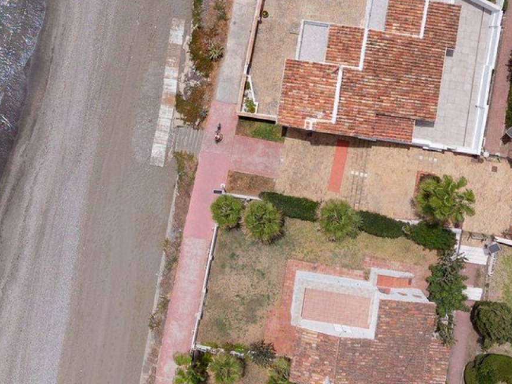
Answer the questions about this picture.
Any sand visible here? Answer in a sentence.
Yes, sand can be seen from above here.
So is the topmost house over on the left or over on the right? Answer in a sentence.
It is on the right.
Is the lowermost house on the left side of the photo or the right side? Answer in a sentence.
The lowermost house appears in the right half of the scene.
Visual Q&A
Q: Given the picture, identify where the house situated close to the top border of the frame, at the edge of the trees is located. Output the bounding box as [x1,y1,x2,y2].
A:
[277,0,462,143]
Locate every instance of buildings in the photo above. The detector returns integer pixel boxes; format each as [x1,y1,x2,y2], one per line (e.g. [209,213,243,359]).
[277,0,462,143]
[288,265,451,384]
